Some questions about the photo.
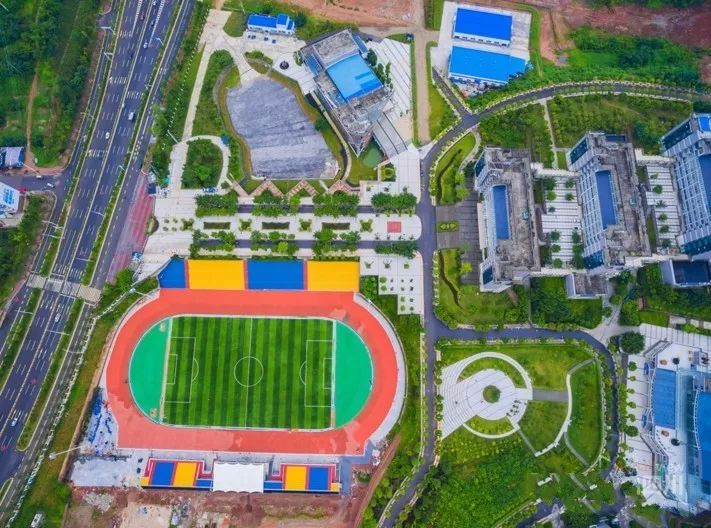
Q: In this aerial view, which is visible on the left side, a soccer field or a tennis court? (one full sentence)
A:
The feature located on the left side is a soccer field.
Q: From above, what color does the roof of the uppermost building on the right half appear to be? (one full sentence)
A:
From above, the roof of the uppermost building on the right half looks blue.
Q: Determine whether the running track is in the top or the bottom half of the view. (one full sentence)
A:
You can find the running track in the bottom half.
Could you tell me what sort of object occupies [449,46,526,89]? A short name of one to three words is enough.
building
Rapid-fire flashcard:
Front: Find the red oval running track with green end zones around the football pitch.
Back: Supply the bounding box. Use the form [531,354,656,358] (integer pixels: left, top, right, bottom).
[105,290,397,456]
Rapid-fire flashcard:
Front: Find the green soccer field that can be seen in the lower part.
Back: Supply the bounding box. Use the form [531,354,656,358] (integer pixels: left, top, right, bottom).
[160,315,335,431]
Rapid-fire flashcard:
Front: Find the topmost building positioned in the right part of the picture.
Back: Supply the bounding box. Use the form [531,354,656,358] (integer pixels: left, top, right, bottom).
[451,6,514,49]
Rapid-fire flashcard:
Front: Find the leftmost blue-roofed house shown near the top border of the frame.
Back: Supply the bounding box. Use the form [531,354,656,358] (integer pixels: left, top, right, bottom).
[248,14,296,35]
